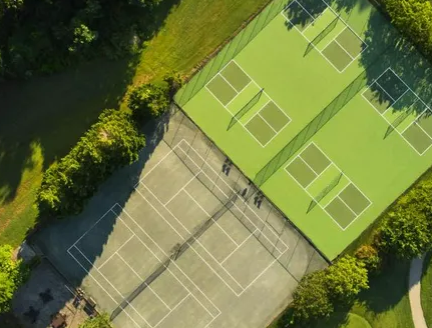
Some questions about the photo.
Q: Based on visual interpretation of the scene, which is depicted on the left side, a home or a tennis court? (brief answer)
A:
tennis court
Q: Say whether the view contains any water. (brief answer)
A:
No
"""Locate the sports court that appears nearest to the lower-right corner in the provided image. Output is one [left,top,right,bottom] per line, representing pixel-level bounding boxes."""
[285,142,371,230]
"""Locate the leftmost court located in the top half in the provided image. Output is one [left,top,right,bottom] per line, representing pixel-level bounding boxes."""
[205,60,291,148]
